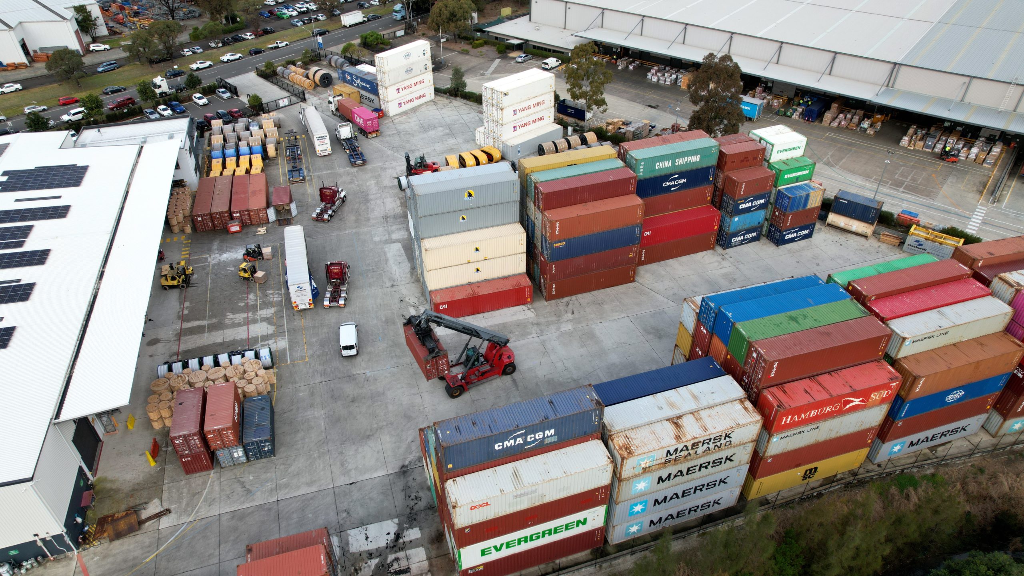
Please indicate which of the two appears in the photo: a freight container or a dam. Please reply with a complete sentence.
The image shows a freight container.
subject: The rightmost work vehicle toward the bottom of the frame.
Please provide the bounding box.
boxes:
[404,318,521,399]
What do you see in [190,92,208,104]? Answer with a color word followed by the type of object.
white vehicle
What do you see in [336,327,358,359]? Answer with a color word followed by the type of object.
white vehicle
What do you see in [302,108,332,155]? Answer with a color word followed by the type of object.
white trailer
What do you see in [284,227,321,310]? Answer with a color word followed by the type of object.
white trailer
